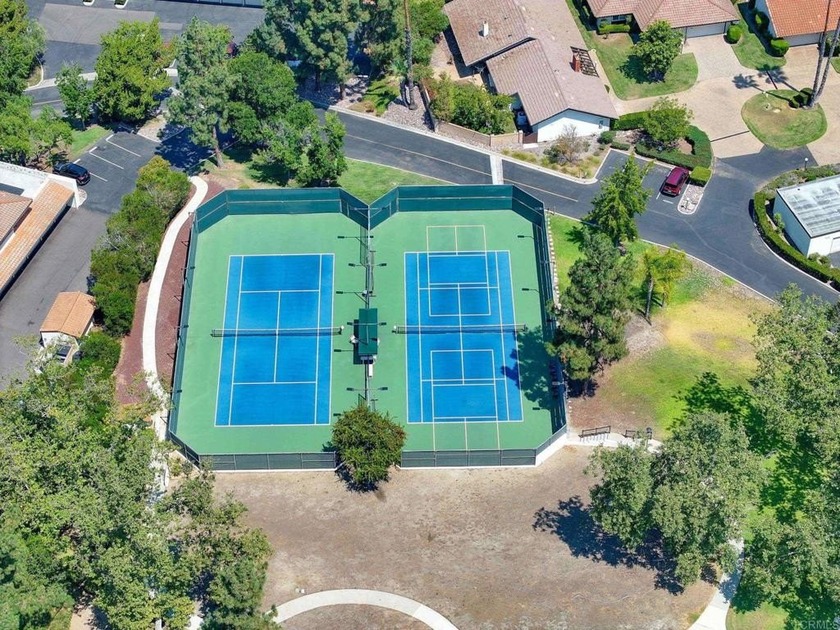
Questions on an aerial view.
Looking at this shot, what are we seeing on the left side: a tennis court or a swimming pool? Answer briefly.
tennis court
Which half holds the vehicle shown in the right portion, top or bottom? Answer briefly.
top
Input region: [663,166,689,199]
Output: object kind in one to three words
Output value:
vehicle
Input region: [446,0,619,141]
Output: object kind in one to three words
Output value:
house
